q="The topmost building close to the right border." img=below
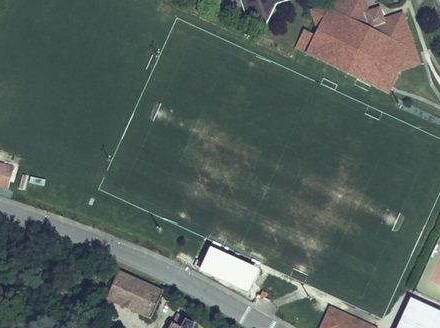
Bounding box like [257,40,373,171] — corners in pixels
[306,0,420,92]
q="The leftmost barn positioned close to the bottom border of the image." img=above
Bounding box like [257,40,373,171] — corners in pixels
[108,268,161,318]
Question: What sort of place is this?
sports ground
